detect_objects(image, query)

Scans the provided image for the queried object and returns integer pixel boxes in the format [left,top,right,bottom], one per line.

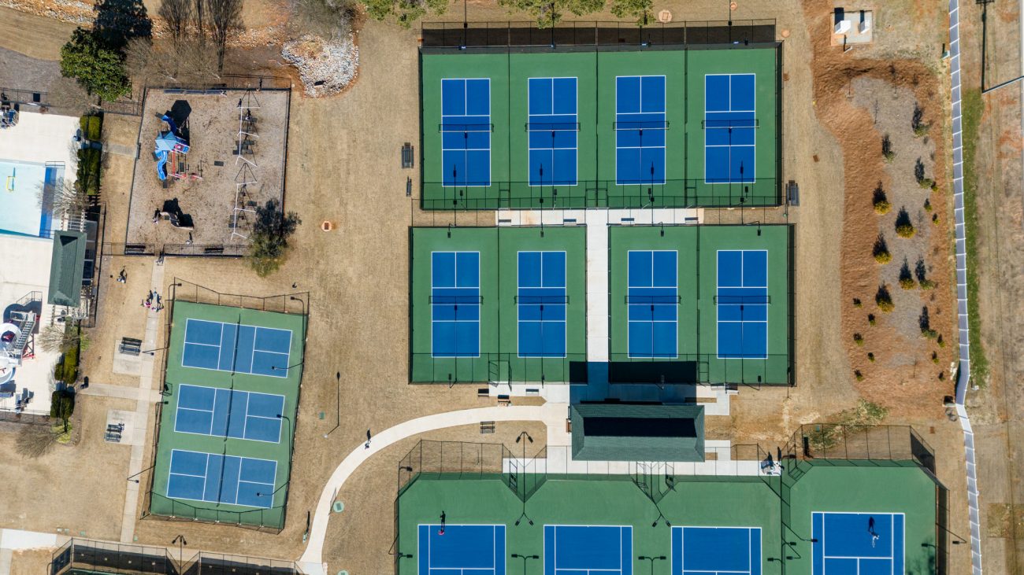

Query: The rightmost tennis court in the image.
[782,460,936,575]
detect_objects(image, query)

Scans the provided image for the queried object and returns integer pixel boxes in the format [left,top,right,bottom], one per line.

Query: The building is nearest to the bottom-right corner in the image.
[571,400,705,462]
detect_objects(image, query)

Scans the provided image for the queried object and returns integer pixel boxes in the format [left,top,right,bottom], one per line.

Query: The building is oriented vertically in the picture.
[48,208,102,327]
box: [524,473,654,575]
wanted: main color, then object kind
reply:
green tennis court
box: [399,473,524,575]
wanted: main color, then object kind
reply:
green tennis court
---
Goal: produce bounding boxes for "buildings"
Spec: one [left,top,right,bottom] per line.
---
[48,208,102,327]
[571,400,705,462]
